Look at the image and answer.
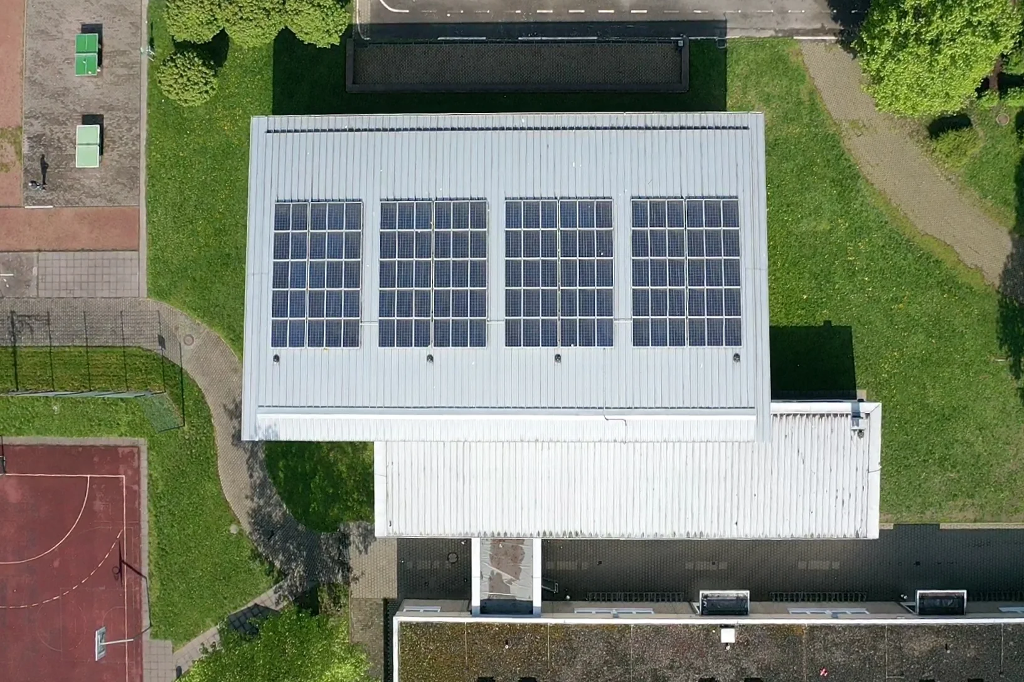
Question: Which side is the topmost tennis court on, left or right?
left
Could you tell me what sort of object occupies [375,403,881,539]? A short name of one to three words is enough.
building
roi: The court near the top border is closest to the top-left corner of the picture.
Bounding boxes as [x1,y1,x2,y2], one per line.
[24,0,140,205]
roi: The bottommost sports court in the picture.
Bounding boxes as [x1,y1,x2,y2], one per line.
[0,446,144,682]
